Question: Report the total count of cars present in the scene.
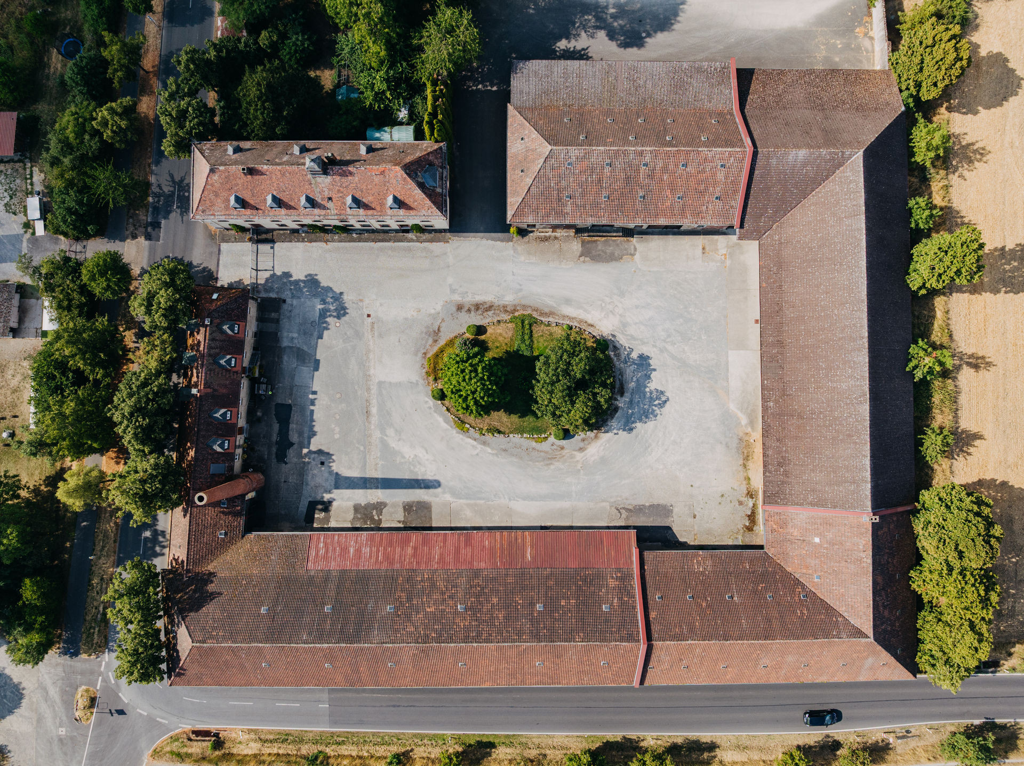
1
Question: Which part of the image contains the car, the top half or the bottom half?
bottom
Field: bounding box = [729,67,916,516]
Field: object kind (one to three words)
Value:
barn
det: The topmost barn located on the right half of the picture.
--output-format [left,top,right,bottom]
[506,57,753,230]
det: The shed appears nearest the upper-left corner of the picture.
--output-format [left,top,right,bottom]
[0,112,40,172]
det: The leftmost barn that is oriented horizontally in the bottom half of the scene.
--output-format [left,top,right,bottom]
[160,530,647,688]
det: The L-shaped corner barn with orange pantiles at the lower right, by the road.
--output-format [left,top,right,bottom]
[639,506,918,687]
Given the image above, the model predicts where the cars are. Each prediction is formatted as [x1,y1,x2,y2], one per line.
[803,708,835,728]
